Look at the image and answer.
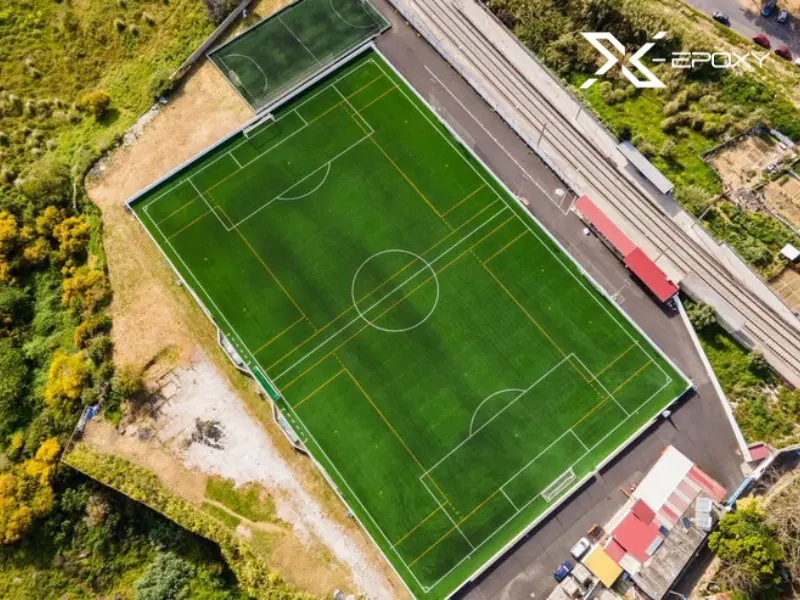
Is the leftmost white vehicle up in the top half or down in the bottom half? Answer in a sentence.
You can find the leftmost white vehicle in the bottom half.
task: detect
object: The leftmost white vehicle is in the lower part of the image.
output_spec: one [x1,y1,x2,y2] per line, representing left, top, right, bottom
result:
[570,538,591,560]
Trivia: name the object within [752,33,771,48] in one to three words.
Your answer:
car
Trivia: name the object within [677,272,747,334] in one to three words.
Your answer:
building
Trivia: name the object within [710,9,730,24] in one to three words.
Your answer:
car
